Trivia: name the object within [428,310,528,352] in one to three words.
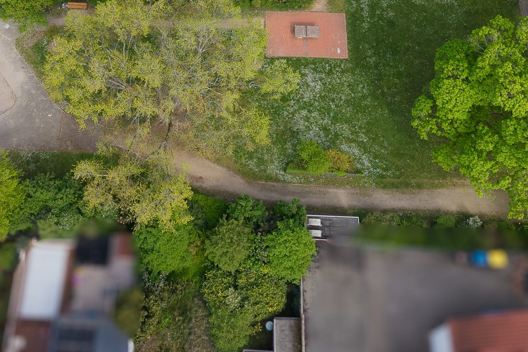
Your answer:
house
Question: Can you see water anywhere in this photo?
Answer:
No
